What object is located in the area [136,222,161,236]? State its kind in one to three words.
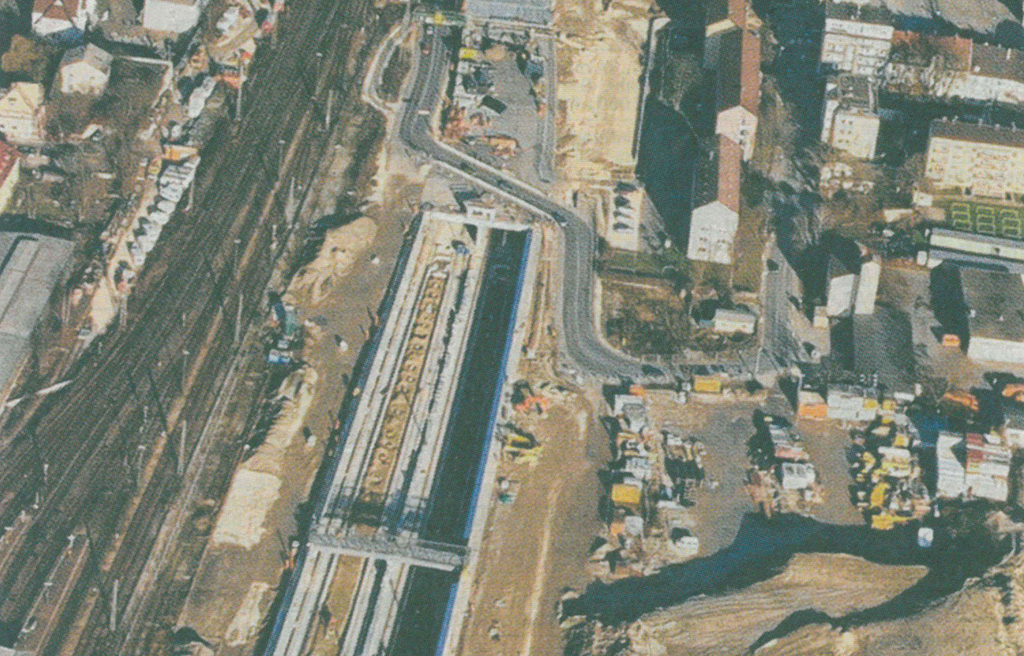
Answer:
vehicle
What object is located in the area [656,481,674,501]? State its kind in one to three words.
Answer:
vehicle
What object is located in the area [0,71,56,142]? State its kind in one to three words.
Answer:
house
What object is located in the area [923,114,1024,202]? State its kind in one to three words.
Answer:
building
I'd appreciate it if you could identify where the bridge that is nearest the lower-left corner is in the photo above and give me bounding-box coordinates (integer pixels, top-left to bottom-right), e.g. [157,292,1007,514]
[303,513,480,567]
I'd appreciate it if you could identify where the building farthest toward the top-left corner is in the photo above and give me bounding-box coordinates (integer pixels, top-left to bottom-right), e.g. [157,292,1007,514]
[22,0,88,34]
